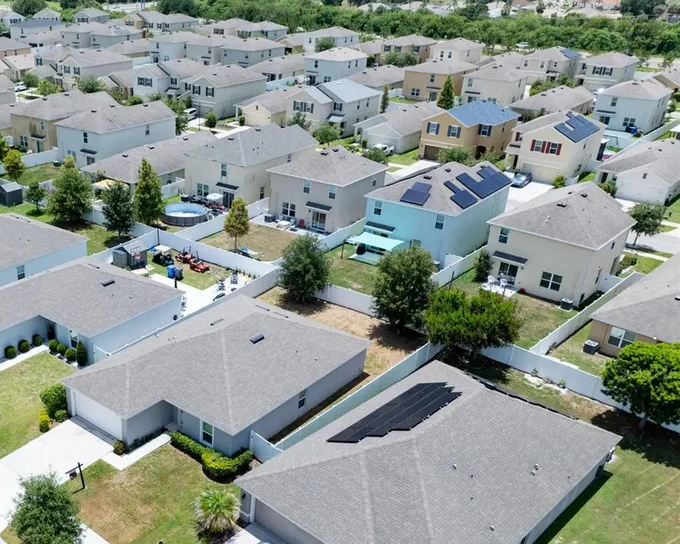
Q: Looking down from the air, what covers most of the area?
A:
buildings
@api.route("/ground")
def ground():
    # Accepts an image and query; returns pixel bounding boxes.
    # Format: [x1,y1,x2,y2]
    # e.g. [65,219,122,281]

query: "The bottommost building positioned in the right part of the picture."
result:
[234,360,622,544]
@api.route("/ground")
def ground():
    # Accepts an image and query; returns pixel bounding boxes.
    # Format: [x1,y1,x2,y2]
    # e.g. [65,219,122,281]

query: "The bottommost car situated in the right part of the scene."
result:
[510,172,531,186]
